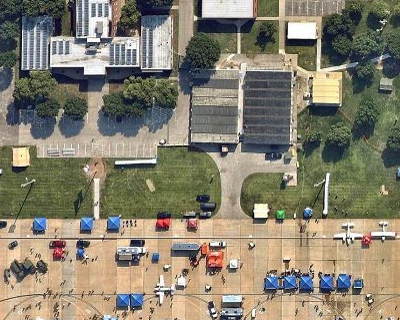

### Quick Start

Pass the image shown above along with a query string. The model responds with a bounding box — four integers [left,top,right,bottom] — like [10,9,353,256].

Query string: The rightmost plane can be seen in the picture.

[370,222,397,241]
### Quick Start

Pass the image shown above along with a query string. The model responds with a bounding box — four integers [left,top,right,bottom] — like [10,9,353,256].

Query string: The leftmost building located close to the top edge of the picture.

[21,0,175,75]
